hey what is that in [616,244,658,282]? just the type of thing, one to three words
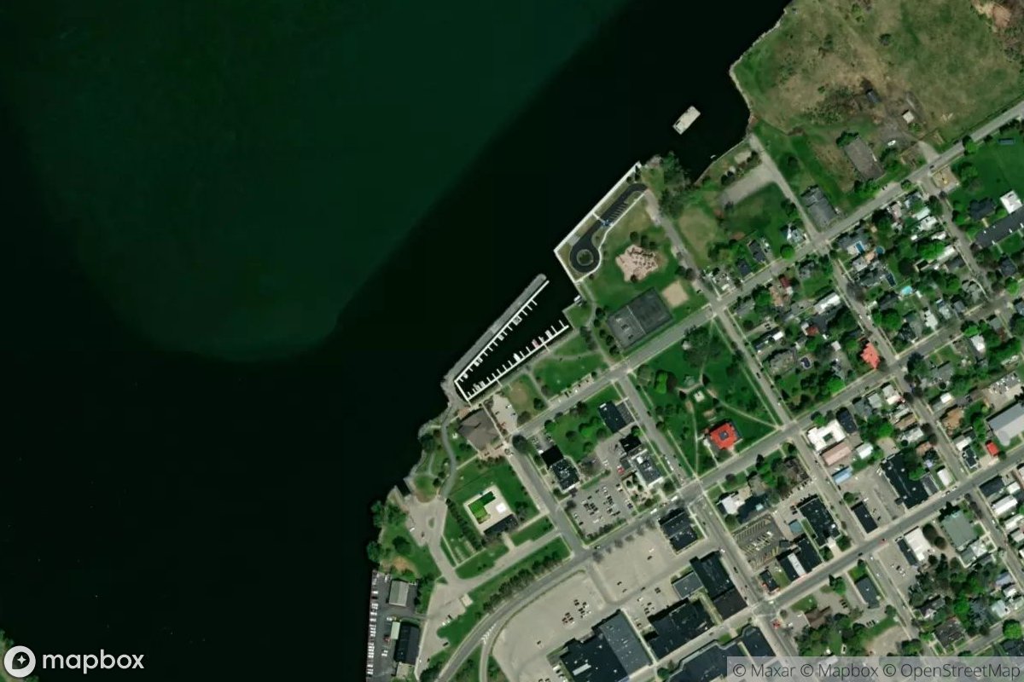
playground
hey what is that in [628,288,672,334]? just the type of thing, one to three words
tennis court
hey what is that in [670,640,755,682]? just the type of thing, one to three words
building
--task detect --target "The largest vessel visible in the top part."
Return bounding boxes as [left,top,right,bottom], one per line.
[674,107,699,133]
